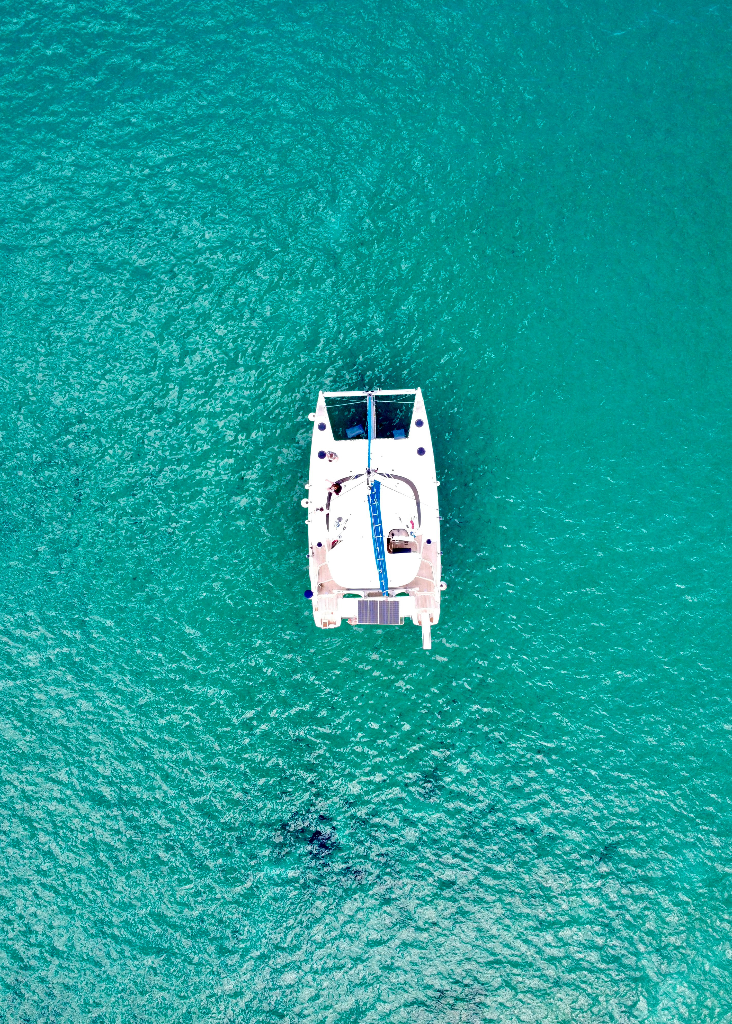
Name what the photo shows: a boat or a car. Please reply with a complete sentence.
Visible in the photo is a boat.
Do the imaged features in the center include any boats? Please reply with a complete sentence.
Yes, the scene does show a boat in the center.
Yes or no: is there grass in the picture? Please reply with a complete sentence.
No, there's no grass in this view.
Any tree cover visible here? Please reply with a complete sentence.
No, there is no tree cover in the image.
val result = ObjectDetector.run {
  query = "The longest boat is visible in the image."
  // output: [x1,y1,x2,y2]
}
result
[308,374,441,649]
